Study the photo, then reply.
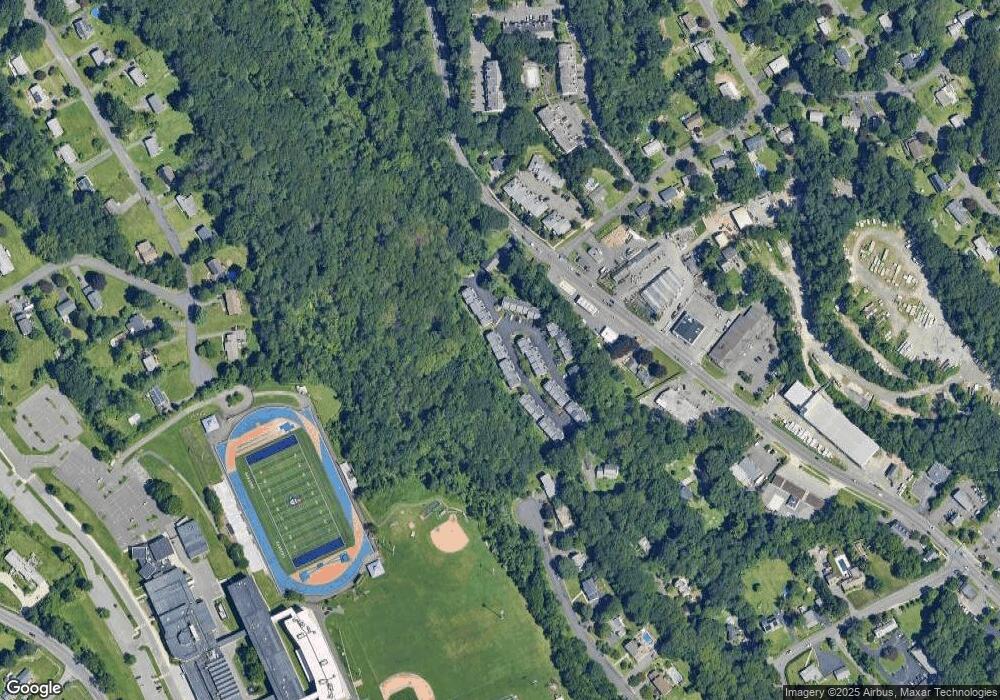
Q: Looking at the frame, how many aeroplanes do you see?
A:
none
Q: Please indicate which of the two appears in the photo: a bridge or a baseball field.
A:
baseball field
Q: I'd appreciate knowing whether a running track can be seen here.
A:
Yes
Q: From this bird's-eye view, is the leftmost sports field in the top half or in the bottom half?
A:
bottom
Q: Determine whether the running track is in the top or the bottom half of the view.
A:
bottom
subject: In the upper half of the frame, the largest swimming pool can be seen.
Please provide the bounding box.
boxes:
[522,61,540,88]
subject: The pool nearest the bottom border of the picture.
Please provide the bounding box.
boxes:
[640,627,658,648]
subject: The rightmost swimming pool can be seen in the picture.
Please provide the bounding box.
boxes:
[835,555,851,577]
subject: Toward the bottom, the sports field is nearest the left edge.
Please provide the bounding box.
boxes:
[236,428,355,575]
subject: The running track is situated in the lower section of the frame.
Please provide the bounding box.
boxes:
[216,406,374,595]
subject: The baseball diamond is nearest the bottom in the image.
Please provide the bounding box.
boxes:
[350,634,435,700]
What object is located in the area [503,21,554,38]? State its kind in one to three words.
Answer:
building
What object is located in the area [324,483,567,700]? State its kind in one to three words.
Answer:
sports field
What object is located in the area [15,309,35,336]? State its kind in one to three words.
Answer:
house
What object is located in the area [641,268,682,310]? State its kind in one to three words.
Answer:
greenhouse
